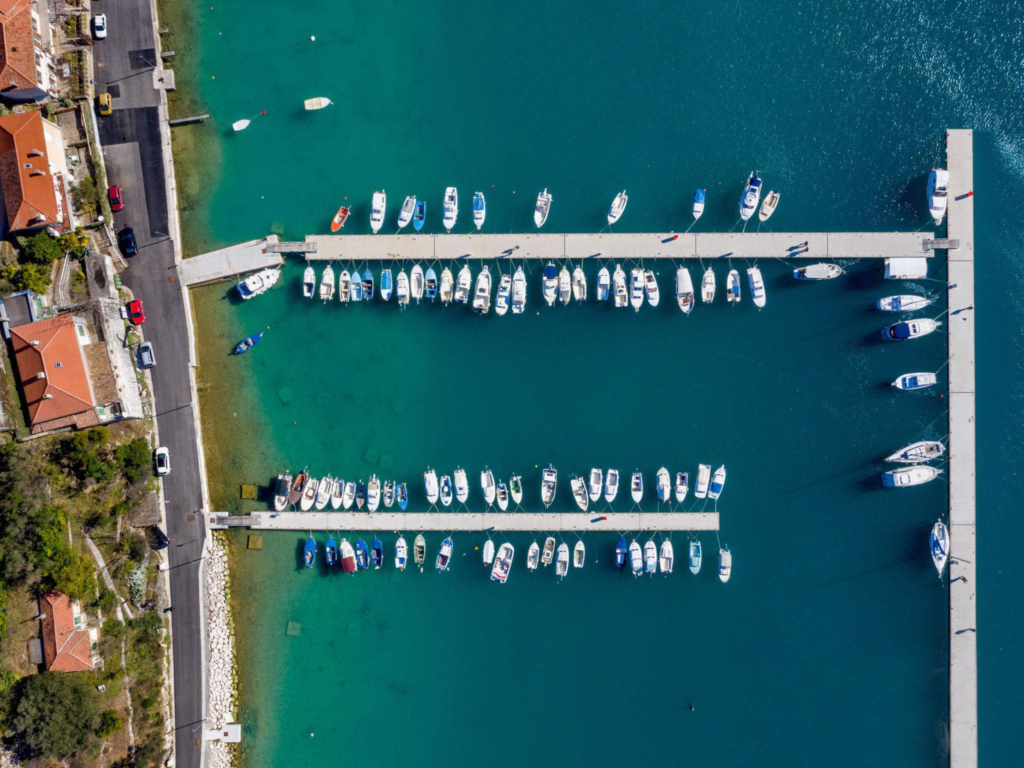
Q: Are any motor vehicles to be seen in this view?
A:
Yes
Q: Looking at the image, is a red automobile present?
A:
Yes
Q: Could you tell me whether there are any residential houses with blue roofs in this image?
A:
No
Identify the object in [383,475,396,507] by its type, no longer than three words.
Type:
boat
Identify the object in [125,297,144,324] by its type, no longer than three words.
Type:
car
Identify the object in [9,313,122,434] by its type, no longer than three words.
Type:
house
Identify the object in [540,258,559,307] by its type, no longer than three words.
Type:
boat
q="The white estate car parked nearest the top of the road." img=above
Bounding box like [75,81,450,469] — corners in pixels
[89,10,106,36]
